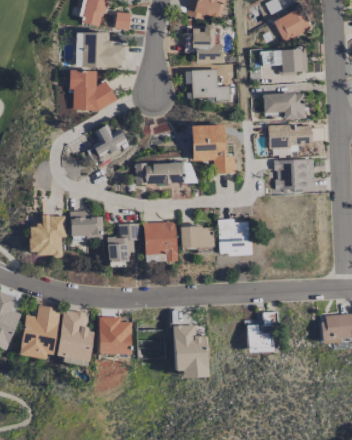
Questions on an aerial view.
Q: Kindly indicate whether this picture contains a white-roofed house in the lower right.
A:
Yes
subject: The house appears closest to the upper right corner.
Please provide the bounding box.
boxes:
[276,9,310,40]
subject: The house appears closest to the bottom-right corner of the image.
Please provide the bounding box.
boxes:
[322,314,352,348]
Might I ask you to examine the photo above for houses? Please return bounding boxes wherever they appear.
[261,47,308,74]
[186,70,230,101]
[268,124,313,157]
[78,0,108,26]
[193,25,222,63]
[274,160,314,191]
[58,308,92,367]
[244,319,274,352]
[144,222,178,262]
[181,226,215,254]
[0,288,23,346]
[20,306,61,360]
[264,93,305,118]
[192,125,236,174]
[276,9,310,40]
[108,224,139,268]
[173,322,210,378]
[116,12,130,30]
[76,32,126,69]
[96,124,132,156]
[70,210,104,244]
[322,314,352,348]
[30,215,65,258]
[98,317,132,356]
[218,220,252,256]
[189,0,225,18]
[70,70,117,111]
[136,162,186,184]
